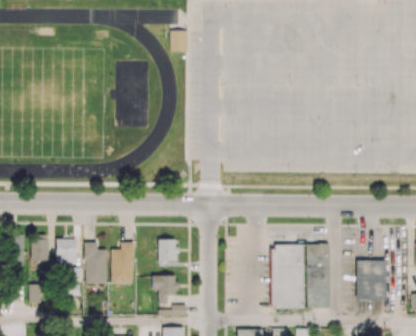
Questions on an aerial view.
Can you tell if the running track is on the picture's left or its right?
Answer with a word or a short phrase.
left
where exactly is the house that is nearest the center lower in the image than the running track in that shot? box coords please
[158,238,179,266]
